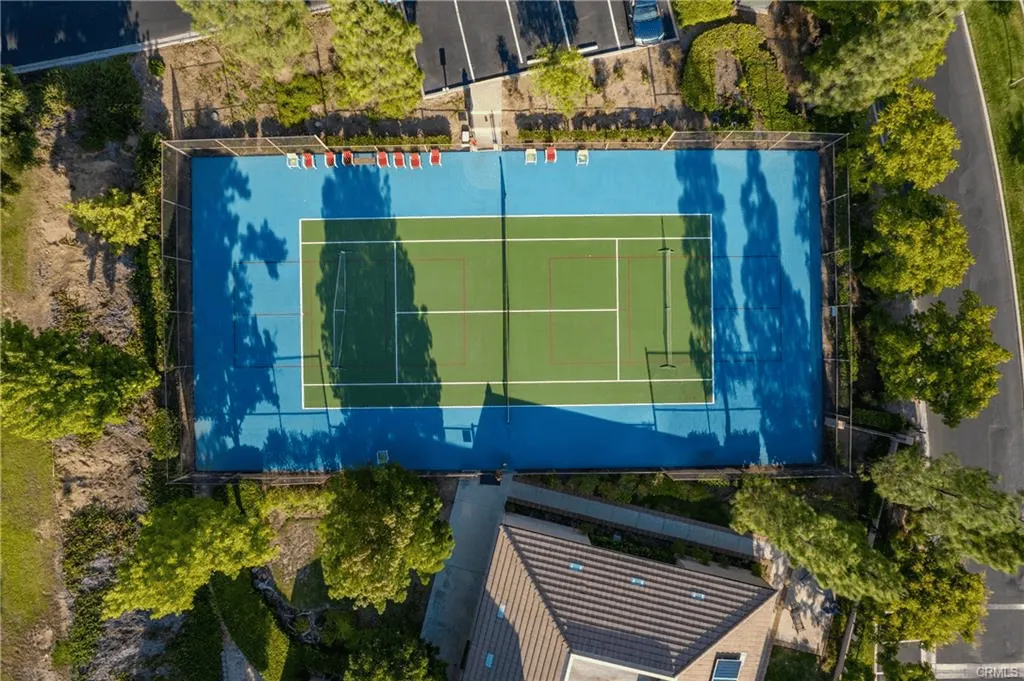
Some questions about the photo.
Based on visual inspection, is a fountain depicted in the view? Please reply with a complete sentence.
No, I can see no fountain in this picture.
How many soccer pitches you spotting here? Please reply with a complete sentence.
The photo contains no soccer pitches.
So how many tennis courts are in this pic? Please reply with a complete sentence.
I count just 1 tennis court.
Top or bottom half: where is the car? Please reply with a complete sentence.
The top half of the photo is where the car is.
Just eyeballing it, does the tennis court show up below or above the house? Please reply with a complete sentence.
Relative to the house, the tennis court lies above it.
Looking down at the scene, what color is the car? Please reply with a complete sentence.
The car looks blue in the image.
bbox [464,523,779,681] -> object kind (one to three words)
house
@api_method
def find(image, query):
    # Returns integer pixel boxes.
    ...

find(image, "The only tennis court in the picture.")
[191,150,823,471]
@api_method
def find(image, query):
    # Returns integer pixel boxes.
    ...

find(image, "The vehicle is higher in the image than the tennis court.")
[627,0,667,48]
